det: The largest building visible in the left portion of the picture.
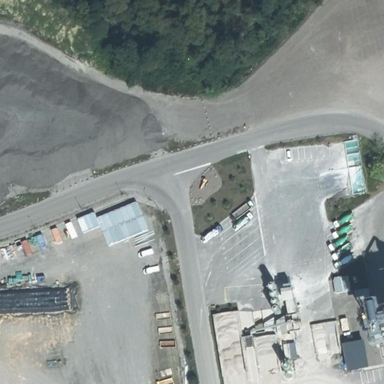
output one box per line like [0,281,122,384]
[96,202,148,246]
